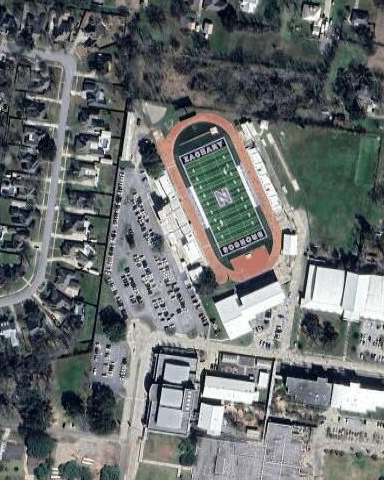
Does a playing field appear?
Yes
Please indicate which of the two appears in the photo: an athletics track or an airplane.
athletics track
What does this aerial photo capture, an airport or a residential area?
residential area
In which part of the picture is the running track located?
center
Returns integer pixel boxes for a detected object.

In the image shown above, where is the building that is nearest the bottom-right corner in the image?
[331,383,384,414]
